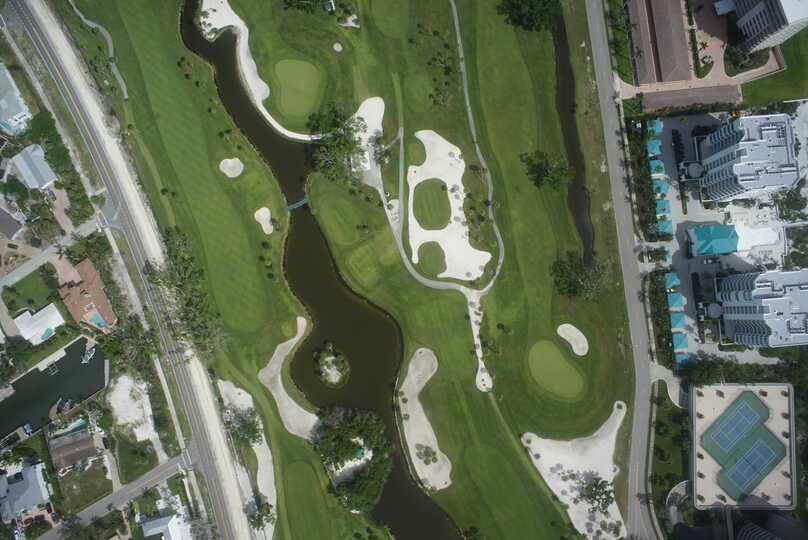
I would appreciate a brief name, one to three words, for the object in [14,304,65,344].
house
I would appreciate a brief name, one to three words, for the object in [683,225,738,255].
building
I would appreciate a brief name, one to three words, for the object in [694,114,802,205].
building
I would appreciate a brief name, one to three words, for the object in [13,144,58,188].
house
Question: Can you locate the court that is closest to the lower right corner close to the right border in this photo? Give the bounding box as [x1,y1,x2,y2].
[716,425,787,501]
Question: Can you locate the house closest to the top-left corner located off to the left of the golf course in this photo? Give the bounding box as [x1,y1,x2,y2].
[0,62,34,133]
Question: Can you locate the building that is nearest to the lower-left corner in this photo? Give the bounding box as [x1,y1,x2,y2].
[0,463,53,516]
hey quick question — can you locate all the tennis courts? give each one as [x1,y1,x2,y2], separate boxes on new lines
[701,391,769,466]
[716,425,787,501]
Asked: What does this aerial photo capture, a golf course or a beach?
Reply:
golf course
